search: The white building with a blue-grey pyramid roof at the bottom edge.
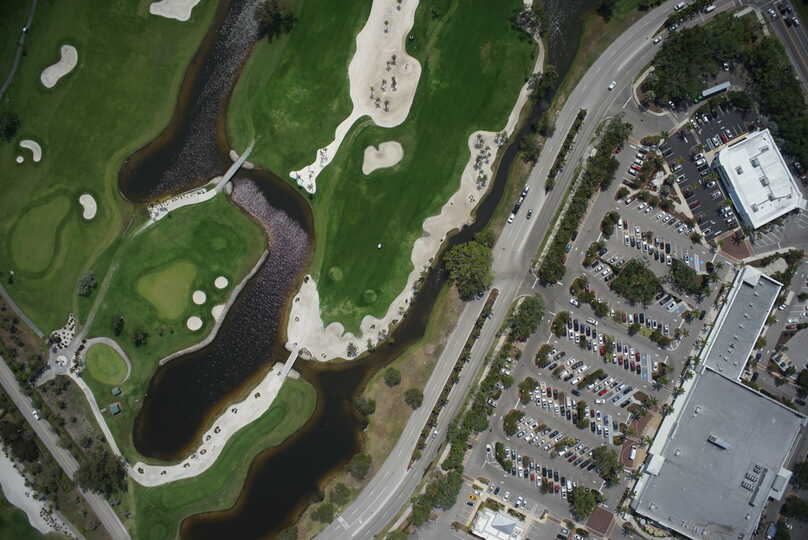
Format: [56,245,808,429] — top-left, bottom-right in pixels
[466,503,526,540]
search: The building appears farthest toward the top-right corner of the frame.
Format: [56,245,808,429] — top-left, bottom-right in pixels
[709,129,807,230]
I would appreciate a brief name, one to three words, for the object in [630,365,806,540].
building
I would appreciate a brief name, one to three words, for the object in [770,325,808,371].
building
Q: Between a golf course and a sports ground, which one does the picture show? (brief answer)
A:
golf course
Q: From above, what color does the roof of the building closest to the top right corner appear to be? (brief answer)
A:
white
